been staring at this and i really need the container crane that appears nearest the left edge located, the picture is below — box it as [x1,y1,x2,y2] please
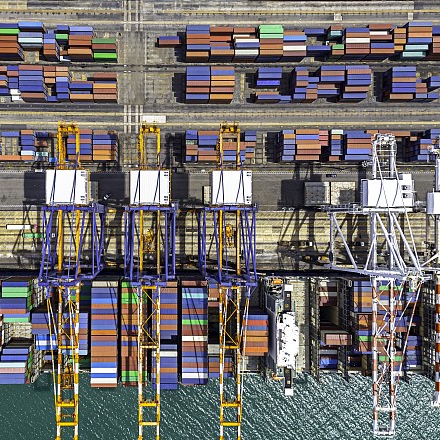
[34,121,111,440]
